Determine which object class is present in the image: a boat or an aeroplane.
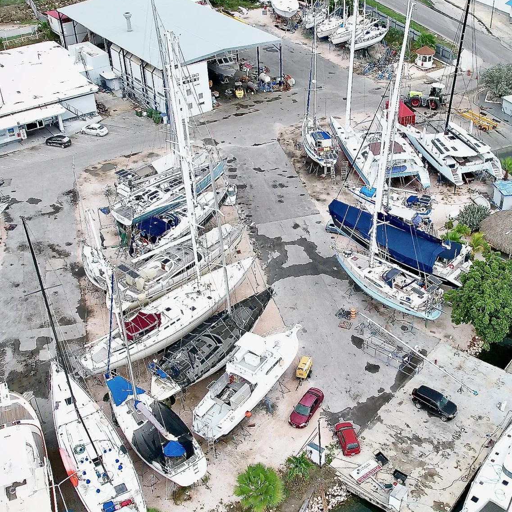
boat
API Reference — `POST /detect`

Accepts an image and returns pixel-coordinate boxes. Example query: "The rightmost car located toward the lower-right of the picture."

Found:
[412,382,459,420]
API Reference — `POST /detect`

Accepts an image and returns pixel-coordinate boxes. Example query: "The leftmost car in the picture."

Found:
[45,131,73,144]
